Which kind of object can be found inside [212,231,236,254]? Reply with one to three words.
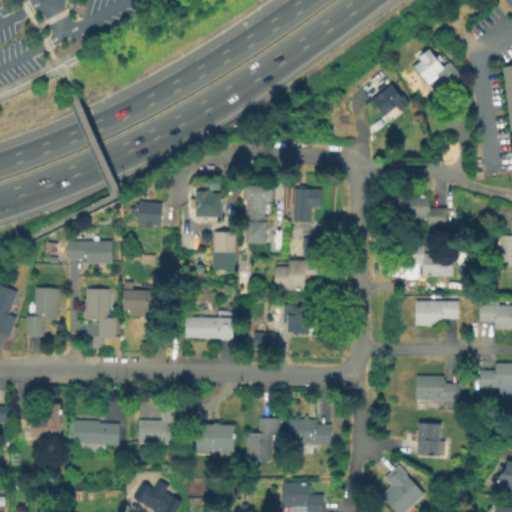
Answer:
house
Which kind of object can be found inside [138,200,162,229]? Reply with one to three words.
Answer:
house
